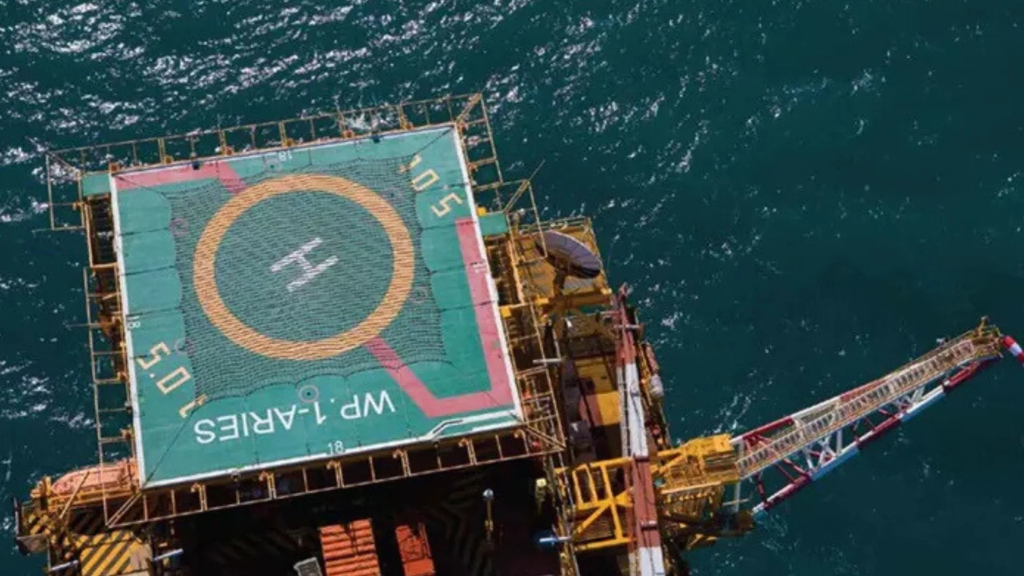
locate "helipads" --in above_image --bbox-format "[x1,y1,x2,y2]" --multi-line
[23,83,565,527]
